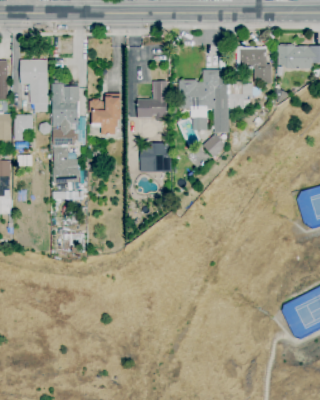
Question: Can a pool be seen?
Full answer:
Yes, I can see a pool in this picture.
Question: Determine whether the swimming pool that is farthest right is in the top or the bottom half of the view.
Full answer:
The top half of the photo is where the swimming pool that is farthest right is.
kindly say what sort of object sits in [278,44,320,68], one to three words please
house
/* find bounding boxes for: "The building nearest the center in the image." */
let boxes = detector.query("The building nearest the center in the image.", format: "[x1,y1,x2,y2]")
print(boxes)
[140,141,170,171]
